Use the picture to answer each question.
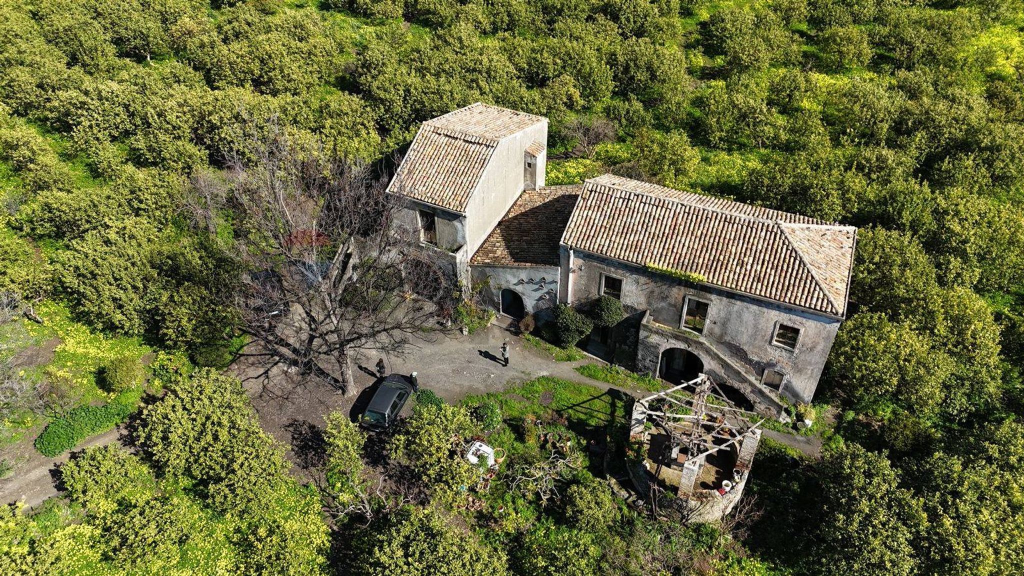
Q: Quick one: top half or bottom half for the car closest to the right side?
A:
bottom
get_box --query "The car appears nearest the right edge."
[356,373,415,437]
